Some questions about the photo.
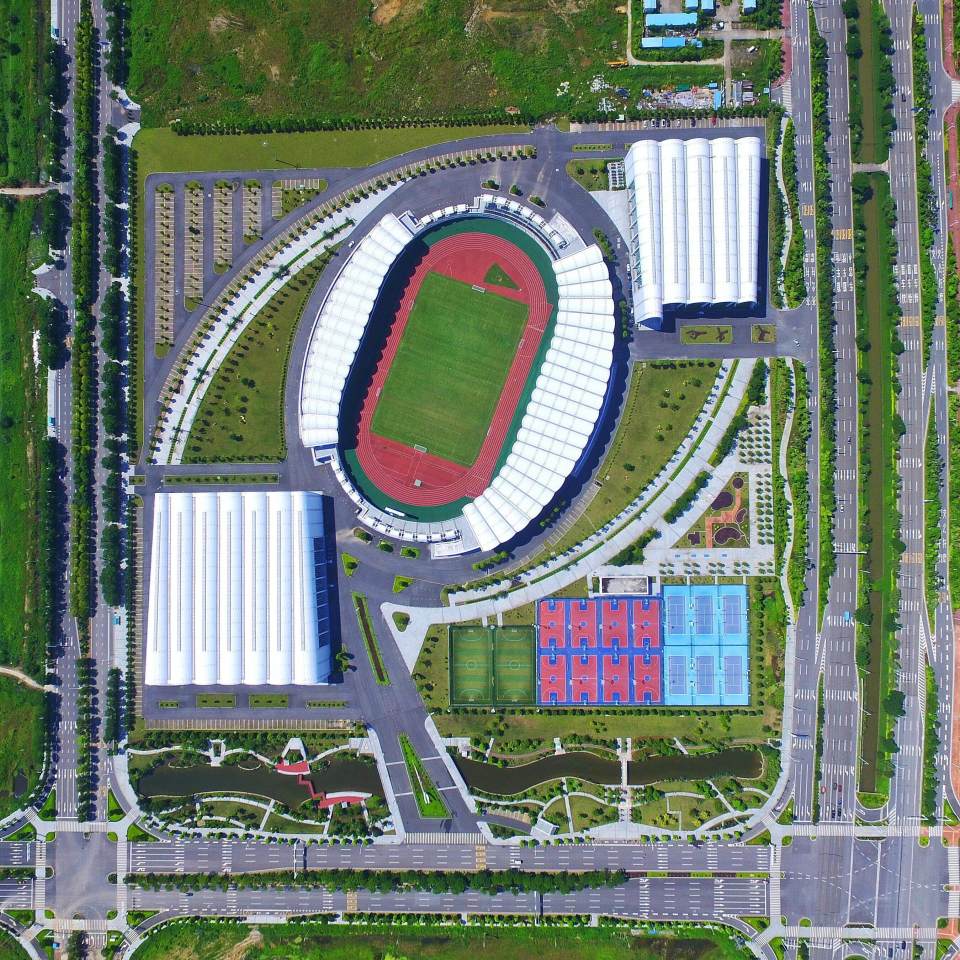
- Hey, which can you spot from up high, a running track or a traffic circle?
running track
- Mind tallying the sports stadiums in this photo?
one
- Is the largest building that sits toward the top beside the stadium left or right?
right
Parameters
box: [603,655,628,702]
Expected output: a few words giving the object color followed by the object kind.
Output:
red basketball court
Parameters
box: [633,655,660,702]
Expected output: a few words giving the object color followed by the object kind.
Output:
red basketball court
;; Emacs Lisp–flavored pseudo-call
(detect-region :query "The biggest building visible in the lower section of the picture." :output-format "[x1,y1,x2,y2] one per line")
[144,492,334,684]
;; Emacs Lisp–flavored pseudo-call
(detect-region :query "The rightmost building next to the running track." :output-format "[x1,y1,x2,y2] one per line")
[623,142,762,332]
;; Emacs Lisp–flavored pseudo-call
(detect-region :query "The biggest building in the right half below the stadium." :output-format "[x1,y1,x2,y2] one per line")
[601,576,649,594]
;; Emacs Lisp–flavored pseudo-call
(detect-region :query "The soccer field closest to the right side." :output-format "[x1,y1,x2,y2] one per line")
[493,626,536,706]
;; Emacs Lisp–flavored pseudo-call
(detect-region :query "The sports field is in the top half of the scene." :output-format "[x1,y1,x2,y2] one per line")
[372,270,529,467]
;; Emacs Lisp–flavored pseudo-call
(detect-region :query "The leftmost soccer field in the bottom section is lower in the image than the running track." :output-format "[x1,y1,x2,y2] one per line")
[450,626,493,706]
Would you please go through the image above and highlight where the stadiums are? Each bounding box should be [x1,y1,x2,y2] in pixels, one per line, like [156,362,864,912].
[294,190,618,558]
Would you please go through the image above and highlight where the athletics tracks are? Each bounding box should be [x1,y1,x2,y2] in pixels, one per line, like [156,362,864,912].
[352,231,556,507]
